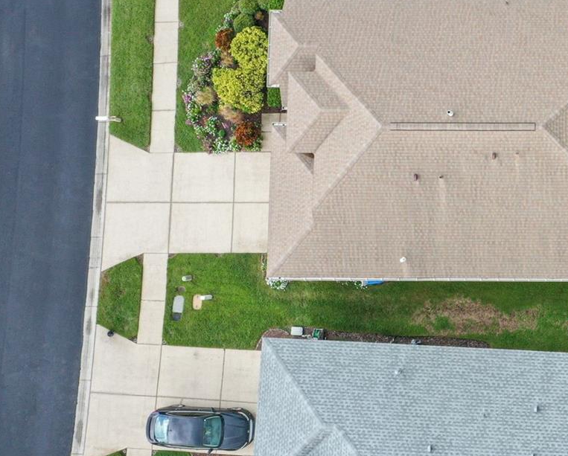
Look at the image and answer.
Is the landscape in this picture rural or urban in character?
urban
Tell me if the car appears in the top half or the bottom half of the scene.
bottom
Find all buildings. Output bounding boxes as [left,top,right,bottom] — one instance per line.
[253,337,568,456]
[264,0,568,284]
